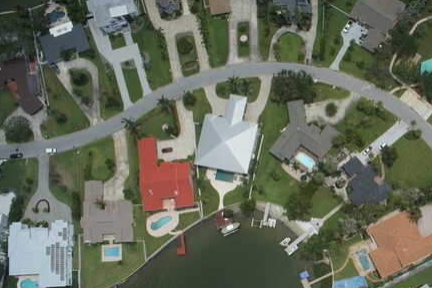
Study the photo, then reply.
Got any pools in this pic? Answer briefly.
Yes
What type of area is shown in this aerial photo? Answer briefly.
residential area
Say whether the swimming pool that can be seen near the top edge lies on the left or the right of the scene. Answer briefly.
left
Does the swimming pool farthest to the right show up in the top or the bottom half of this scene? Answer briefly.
bottom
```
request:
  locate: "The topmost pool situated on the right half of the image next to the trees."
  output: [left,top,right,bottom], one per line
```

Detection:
[289,147,317,181]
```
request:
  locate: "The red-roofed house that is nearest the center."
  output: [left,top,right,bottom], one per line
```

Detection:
[137,137,194,211]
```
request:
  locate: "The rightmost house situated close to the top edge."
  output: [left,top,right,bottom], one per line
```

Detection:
[351,0,406,52]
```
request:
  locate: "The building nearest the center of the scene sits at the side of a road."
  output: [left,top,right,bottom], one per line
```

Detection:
[195,94,258,174]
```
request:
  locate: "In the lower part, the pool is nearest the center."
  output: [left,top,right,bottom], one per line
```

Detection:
[206,169,240,197]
